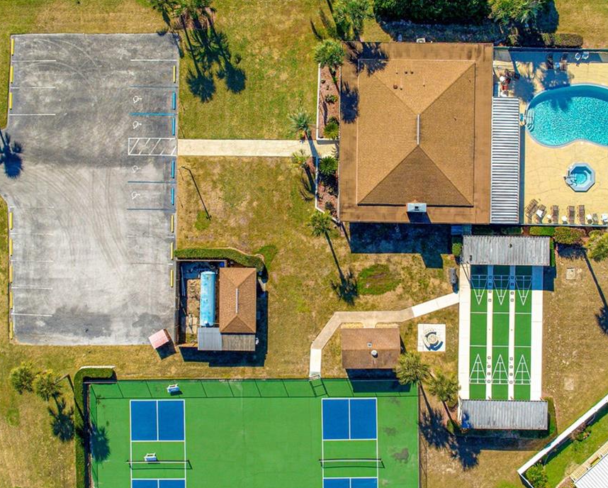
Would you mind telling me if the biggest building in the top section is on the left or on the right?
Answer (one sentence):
It is on the right.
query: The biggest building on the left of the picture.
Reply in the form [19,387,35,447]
[198,267,257,350]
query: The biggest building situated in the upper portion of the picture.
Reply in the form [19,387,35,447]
[338,42,493,224]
